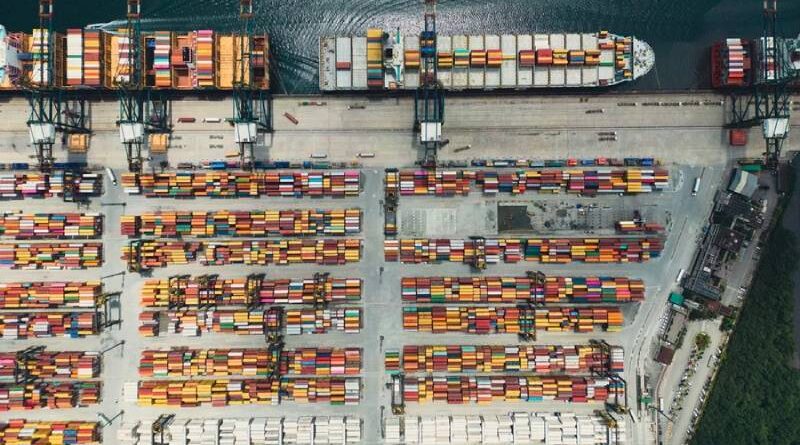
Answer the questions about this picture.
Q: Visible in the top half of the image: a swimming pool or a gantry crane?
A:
gantry crane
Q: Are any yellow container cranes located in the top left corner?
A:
No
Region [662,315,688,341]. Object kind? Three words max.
building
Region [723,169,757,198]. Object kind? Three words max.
building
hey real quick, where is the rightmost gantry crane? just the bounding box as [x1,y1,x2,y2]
[717,0,796,163]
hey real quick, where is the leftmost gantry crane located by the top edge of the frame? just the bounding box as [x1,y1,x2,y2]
[16,0,93,169]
